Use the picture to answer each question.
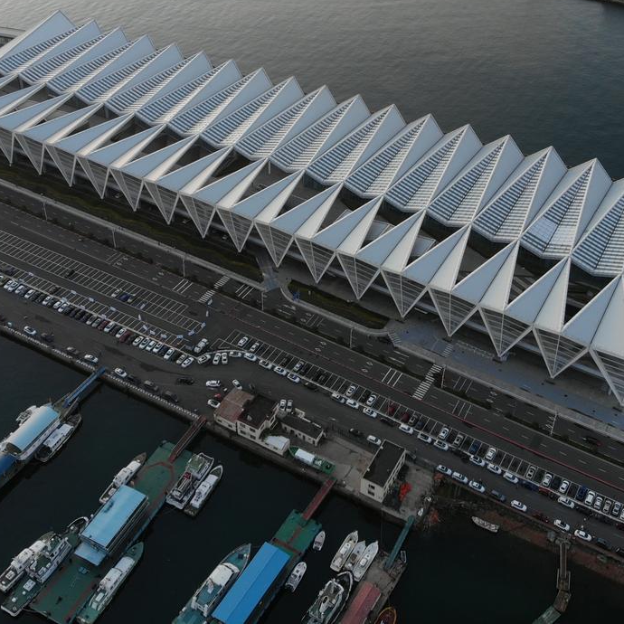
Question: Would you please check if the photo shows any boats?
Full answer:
Yes, a boat appears in the view.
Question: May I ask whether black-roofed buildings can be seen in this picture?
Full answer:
Yes, there's a black-roofed building down there.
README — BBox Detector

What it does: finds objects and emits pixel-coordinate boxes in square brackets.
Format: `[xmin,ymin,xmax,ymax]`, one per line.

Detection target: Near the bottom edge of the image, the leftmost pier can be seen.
[29,440,193,624]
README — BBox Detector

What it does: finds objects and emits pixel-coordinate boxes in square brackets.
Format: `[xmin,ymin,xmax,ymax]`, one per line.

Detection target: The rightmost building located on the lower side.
[362,439,406,501]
